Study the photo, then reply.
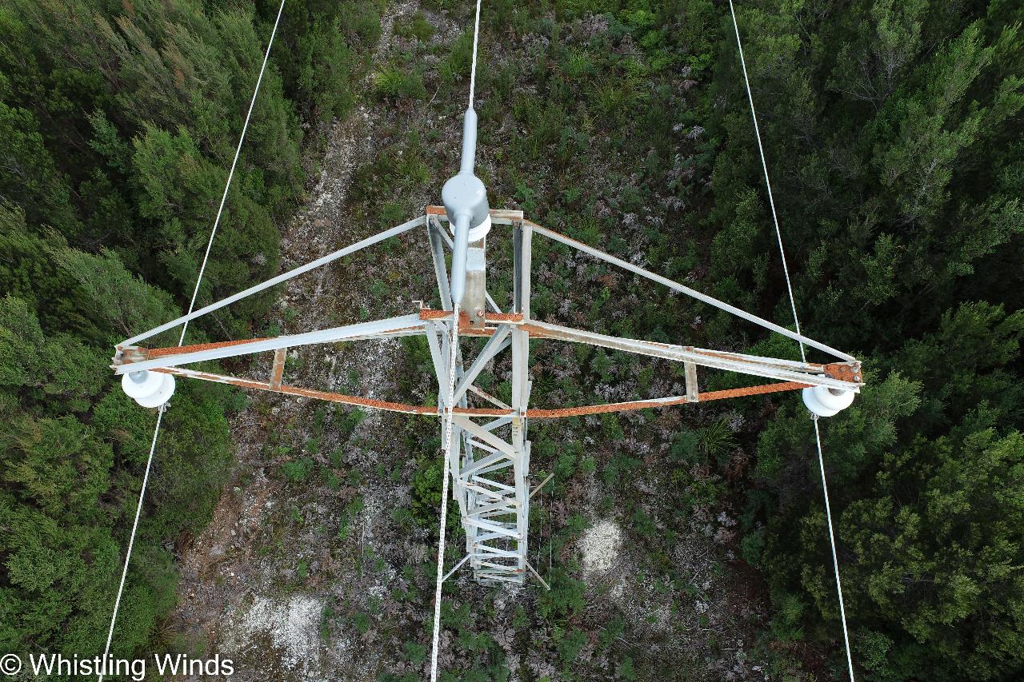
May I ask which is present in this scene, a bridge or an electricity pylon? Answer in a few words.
electricity pylon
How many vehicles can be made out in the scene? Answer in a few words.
none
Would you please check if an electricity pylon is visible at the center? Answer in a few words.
Yes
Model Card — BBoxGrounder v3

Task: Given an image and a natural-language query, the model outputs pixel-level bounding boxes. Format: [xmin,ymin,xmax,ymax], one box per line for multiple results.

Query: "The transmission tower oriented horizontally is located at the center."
[111,206,864,586]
